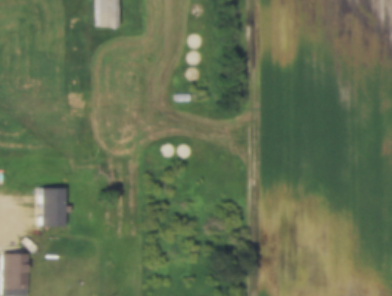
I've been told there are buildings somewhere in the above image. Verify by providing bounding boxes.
[95,0,118,28]
[38,187,68,228]
[0,253,32,296]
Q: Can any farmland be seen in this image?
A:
Yes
